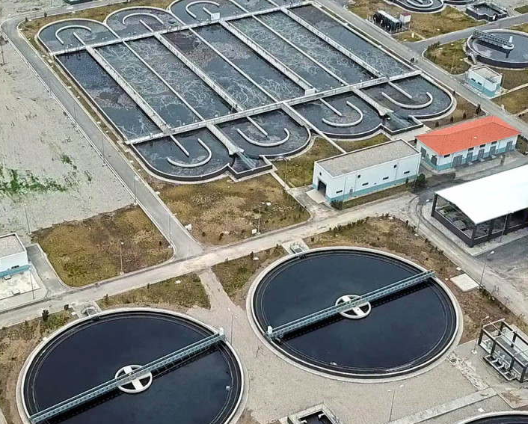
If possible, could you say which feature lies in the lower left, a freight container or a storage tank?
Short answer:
storage tank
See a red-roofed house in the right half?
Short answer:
Yes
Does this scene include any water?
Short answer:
Yes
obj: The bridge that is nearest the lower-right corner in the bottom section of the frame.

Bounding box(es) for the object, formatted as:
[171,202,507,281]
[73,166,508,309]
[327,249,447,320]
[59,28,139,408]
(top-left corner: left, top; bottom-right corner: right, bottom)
[262,272,438,341]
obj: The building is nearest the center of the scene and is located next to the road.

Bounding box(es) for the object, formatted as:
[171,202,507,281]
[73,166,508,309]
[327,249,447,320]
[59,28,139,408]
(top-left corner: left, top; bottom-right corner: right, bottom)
[313,139,422,203]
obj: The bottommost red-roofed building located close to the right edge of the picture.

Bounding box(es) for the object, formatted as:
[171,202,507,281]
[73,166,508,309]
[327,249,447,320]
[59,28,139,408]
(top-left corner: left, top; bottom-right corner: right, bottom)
[414,116,522,171]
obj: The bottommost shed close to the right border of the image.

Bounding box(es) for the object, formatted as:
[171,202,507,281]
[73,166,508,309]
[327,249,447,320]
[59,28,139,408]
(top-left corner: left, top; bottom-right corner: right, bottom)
[431,166,528,248]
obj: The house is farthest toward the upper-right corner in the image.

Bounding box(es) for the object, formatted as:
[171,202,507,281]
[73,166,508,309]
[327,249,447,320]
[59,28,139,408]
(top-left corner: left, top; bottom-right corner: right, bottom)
[467,67,507,96]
